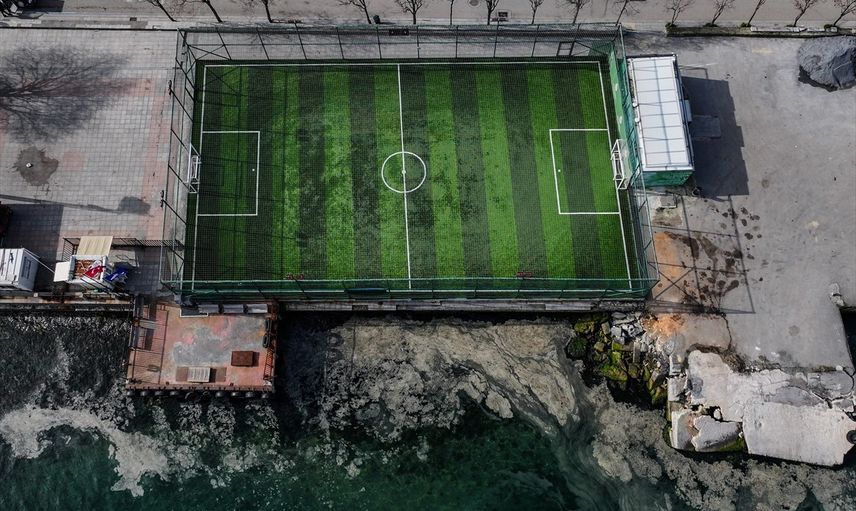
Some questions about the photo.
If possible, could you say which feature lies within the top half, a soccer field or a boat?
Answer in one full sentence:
Visible within the top half is a soccer field.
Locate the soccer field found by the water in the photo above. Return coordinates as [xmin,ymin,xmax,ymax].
[181,56,639,282]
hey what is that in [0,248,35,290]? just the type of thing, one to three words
building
